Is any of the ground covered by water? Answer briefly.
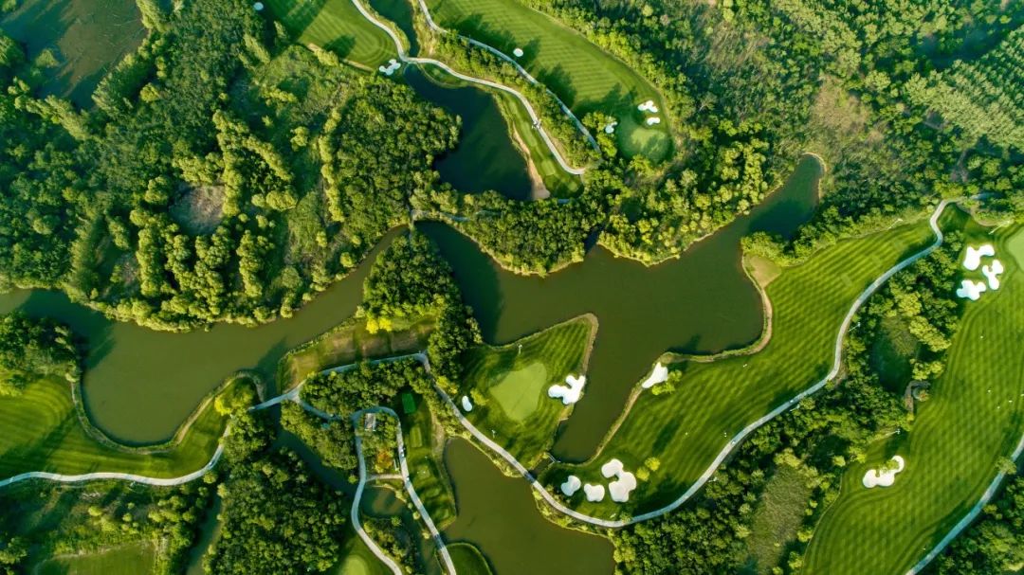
Yes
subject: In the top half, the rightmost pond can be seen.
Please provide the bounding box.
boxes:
[368,0,530,201]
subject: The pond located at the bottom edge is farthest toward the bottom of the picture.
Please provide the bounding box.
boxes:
[444,439,616,575]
